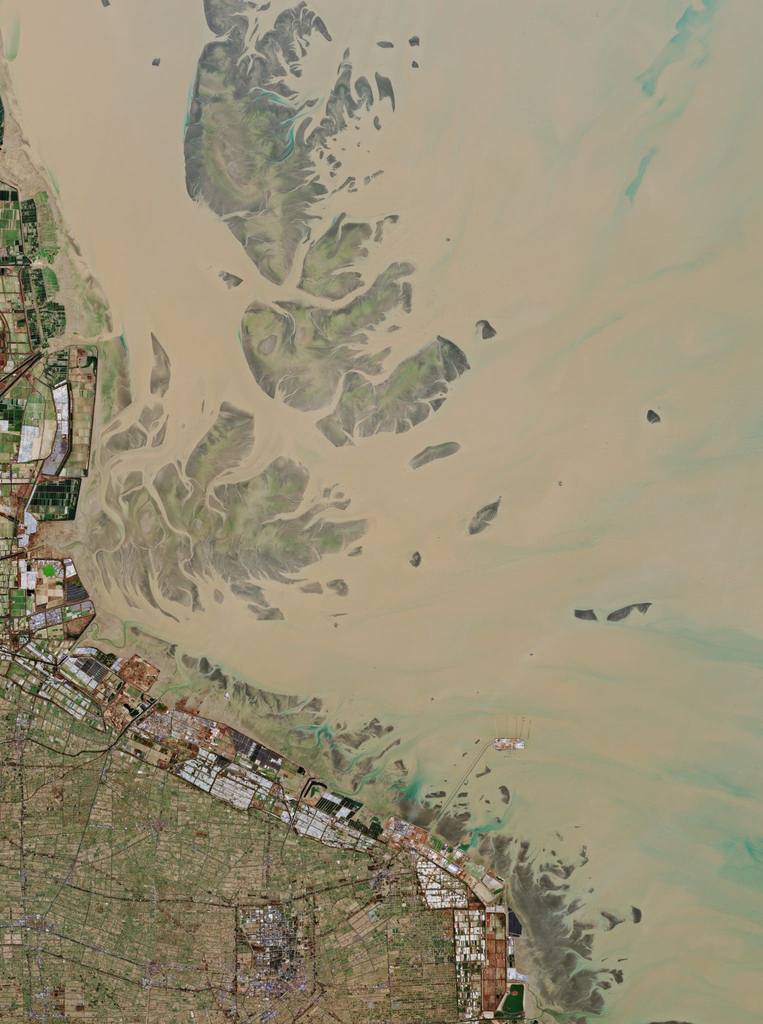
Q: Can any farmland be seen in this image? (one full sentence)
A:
Yes, the picture does contain farmland.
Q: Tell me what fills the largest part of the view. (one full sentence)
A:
The largest share of the image is taken up by water.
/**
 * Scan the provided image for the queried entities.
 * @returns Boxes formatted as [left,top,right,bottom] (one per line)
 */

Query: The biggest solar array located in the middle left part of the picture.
[66,580,89,602]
